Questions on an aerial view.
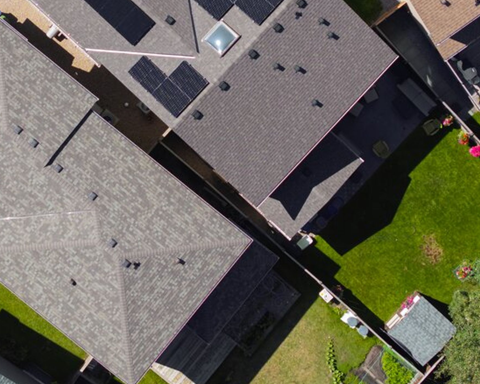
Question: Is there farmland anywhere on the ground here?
No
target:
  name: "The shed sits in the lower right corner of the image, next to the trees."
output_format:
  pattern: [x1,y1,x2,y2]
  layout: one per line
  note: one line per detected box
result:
[386,295,456,367]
